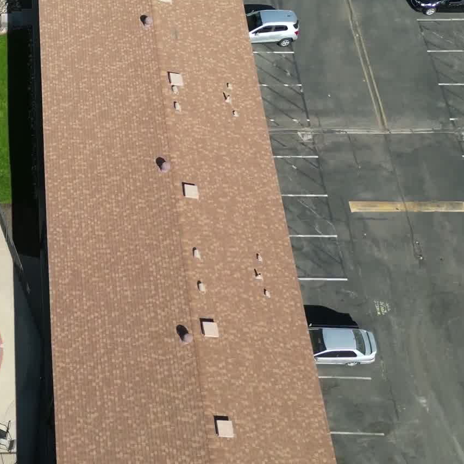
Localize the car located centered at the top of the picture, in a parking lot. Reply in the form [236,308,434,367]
[246,9,300,47]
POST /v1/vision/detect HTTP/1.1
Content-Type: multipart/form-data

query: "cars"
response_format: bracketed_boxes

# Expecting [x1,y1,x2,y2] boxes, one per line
[308,322,379,366]
[417,0,464,15]
[246,9,300,47]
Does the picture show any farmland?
No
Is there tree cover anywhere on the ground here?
No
